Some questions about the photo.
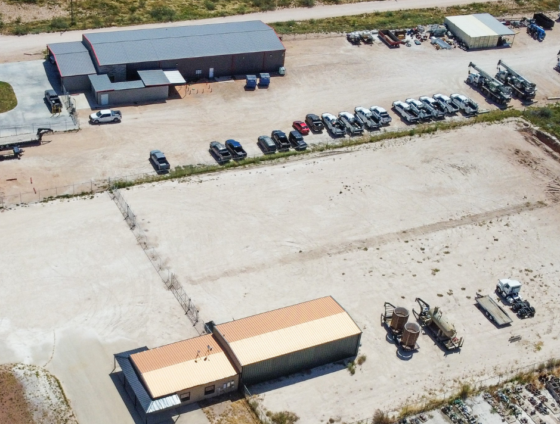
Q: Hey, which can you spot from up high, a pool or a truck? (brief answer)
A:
truck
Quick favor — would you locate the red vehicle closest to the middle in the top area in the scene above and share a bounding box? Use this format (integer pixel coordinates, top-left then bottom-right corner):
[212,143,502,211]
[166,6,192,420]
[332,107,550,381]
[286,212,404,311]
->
[293,121,310,136]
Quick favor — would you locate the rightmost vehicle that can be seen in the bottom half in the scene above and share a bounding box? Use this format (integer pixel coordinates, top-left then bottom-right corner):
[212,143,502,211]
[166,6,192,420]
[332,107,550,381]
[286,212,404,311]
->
[501,285,537,319]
